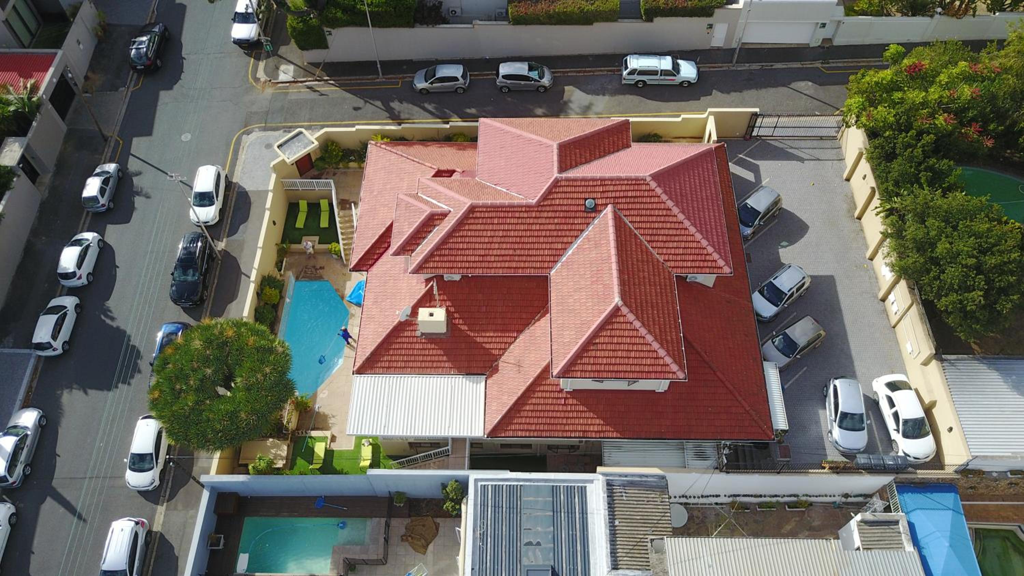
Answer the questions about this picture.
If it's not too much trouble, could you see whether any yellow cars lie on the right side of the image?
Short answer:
No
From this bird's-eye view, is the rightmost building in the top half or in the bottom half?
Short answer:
bottom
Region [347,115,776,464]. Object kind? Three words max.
house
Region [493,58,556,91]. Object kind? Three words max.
car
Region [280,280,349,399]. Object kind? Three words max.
swimming pool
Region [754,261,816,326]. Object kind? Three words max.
car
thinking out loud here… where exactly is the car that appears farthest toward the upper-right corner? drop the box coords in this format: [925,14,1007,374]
[740,185,788,244]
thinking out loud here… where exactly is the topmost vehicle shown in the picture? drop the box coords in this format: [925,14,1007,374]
[232,0,267,47]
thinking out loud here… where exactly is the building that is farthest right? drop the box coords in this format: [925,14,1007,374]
[939,354,1024,473]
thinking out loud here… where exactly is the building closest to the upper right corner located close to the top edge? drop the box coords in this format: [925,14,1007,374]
[741,0,842,46]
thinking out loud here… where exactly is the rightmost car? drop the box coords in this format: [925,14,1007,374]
[875,376,934,461]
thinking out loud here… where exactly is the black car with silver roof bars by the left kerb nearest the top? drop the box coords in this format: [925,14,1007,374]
[126,21,171,74]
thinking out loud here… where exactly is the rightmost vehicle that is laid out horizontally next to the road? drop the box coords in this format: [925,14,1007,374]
[620,49,698,85]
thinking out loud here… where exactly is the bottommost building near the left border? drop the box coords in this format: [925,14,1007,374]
[0,138,55,197]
